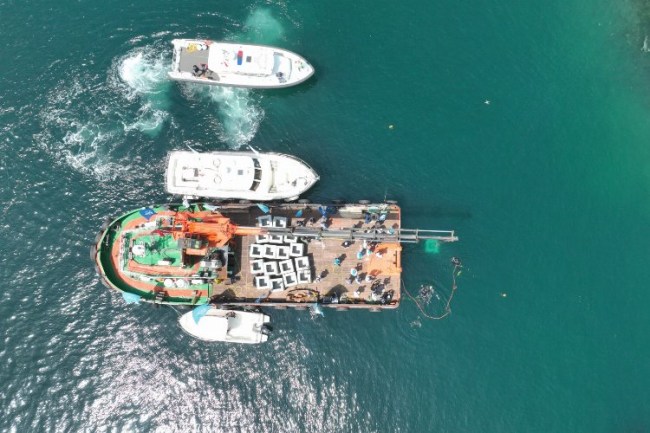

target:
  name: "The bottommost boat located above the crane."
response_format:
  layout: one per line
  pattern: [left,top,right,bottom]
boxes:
[168,145,324,201]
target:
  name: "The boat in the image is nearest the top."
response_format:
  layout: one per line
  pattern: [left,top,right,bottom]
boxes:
[169,39,315,86]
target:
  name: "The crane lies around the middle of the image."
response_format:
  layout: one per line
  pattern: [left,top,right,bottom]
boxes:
[175,211,461,255]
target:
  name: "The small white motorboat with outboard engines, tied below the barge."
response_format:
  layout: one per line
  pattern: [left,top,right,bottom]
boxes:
[166,305,271,343]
